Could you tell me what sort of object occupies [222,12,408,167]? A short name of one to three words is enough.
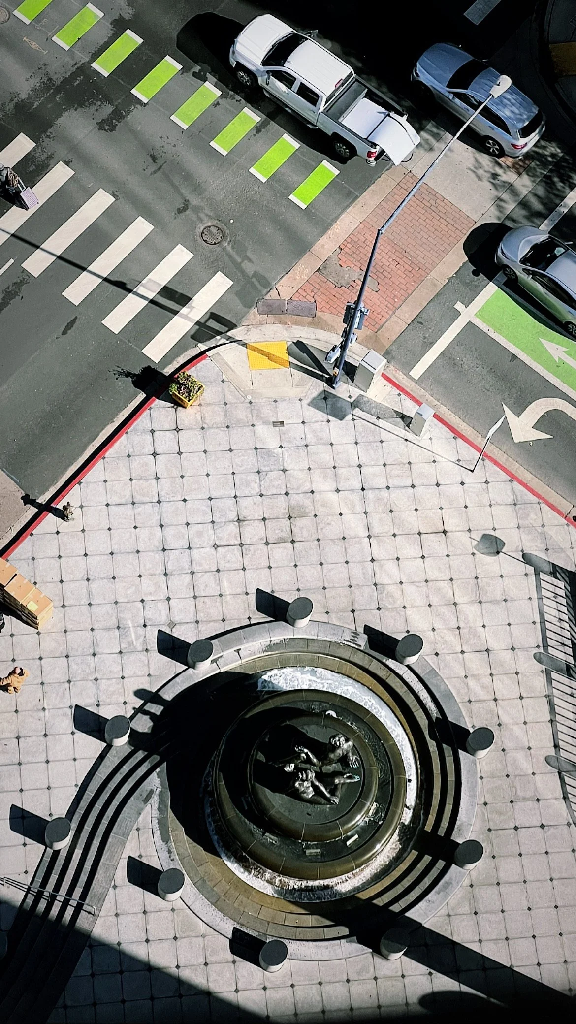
truck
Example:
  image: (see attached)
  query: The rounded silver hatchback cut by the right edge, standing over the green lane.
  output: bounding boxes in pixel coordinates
[495,223,576,336]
